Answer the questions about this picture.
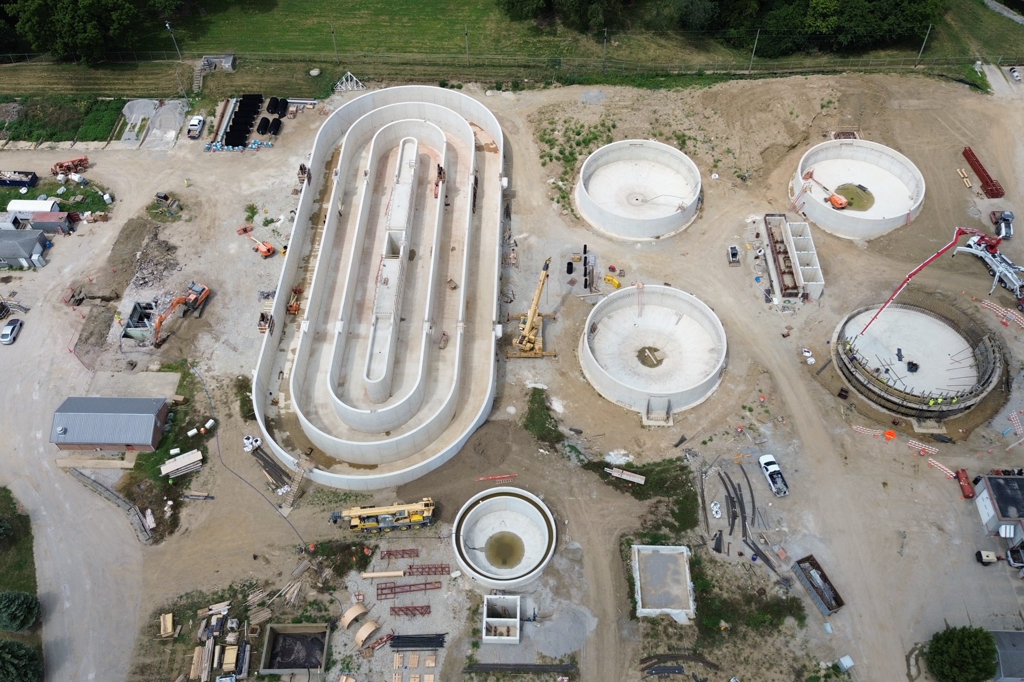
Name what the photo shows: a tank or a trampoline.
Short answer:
tank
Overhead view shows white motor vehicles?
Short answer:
Yes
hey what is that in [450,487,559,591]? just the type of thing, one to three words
storage tank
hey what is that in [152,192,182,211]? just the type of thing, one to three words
work vehicle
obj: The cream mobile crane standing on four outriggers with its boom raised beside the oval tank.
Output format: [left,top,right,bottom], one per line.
[503,255,560,362]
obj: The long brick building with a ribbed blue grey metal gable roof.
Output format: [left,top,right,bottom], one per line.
[50,395,172,456]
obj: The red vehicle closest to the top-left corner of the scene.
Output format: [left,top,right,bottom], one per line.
[42,155,84,179]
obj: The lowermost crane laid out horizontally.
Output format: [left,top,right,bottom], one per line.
[324,496,436,533]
